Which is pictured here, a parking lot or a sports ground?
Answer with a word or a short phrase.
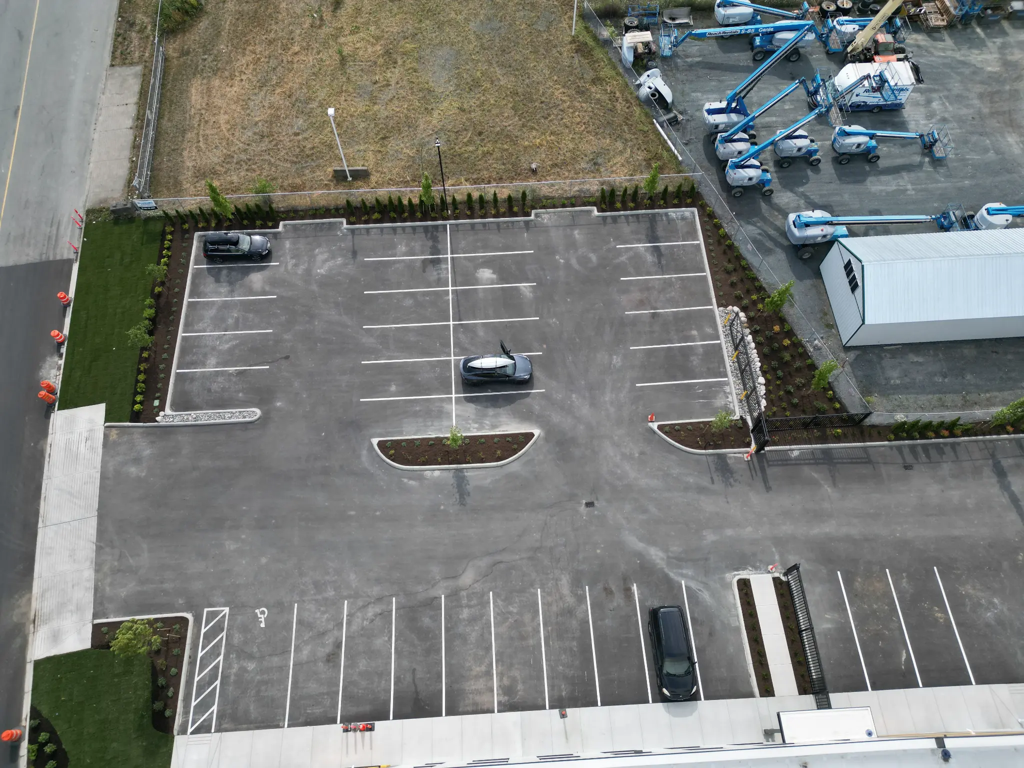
parking lot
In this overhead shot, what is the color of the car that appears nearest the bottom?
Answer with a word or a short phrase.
black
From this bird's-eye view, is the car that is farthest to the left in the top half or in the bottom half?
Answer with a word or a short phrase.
top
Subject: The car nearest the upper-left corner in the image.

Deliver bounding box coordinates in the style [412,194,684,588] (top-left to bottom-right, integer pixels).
[201,229,273,264]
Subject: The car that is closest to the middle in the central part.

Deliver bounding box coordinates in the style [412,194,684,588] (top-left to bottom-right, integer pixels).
[460,337,533,388]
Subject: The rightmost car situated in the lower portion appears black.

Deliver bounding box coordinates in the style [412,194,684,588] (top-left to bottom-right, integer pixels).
[648,605,699,703]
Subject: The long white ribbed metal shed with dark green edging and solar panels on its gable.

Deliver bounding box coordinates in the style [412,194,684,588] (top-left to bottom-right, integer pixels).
[819,230,1024,347]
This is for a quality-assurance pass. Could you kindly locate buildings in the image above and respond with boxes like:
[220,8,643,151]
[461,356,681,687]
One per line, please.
[351,705,1024,768]
[819,230,1024,347]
